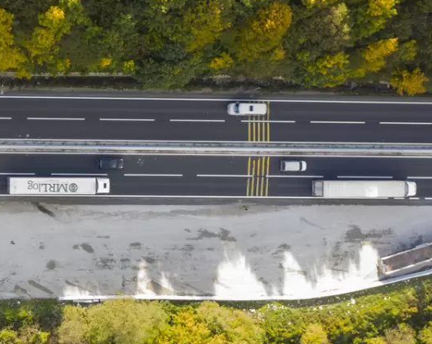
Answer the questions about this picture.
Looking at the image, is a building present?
No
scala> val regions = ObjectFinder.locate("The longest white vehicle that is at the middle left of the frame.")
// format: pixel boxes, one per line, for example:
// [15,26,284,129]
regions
[6,175,107,195]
